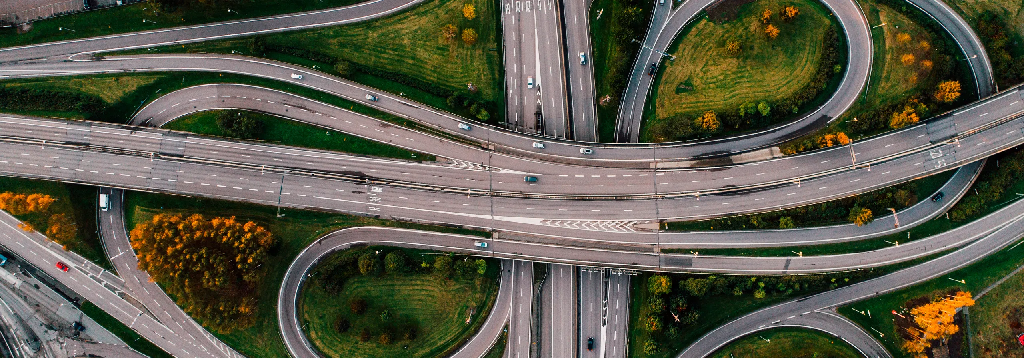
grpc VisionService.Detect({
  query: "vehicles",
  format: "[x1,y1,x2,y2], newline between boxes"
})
[580,148,593,154]
[365,94,378,102]
[473,241,488,247]
[458,123,471,130]
[99,194,109,210]
[648,62,656,76]
[524,176,538,182]
[82,0,90,10]
[0,254,9,264]
[72,322,86,331]
[579,52,585,65]
[532,142,545,149]
[588,338,593,351]
[291,73,302,79]
[527,76,533,88]
[931,192,943,202]
[55,262,69,272]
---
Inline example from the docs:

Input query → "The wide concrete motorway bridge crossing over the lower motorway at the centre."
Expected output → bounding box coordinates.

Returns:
[432,107,660,272]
